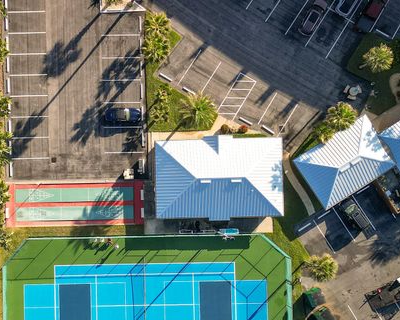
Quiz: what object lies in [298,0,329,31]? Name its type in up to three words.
car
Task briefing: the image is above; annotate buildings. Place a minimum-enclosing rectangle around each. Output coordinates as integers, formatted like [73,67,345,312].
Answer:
[154,134,284,221]
[292,115,395,209]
